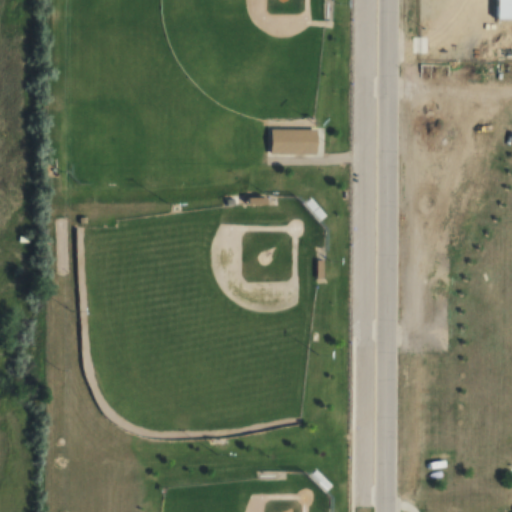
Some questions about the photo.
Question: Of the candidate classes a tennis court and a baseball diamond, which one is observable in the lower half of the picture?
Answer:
baseball diamond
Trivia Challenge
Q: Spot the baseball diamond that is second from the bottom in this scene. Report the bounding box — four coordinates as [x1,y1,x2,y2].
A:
[77,196,326,441]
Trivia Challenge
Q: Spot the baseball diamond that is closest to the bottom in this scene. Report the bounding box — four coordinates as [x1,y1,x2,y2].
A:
[162,472,332,512]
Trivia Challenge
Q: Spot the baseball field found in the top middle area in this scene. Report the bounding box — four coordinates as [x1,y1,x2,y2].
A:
[161,0,334,122]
